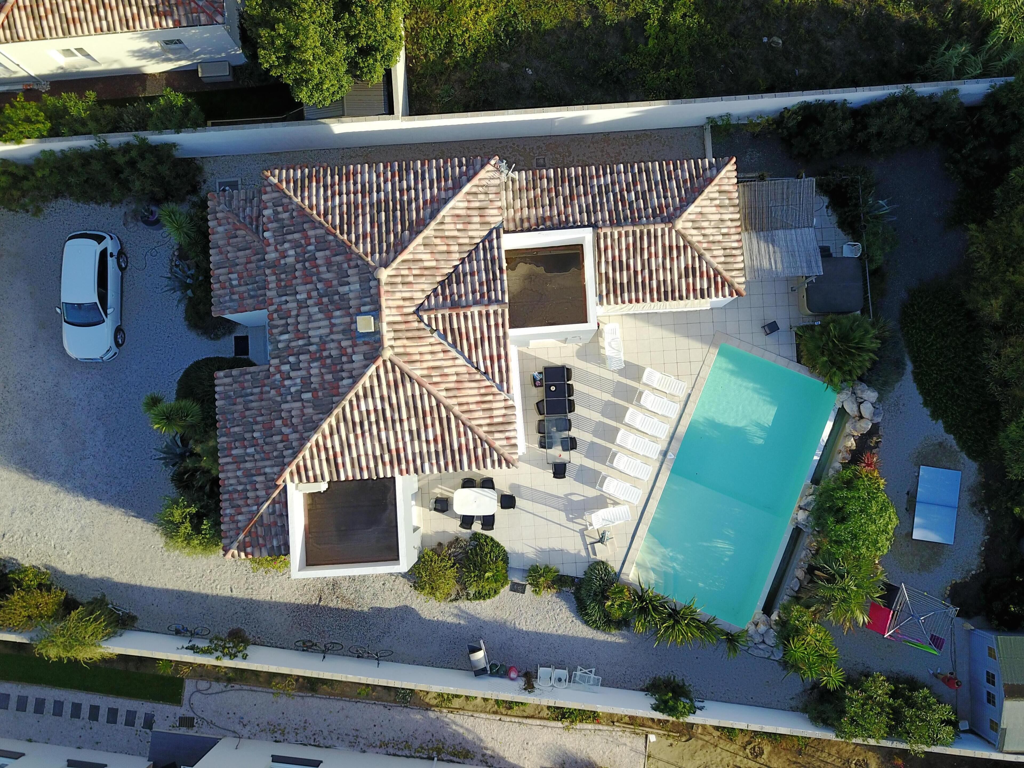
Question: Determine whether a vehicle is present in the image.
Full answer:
Yes, looking at the shot, I can spot a vehicle.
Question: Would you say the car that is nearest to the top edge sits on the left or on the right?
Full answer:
It is on the left.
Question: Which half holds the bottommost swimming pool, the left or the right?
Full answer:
You can find the bottommost swimming pool on the right side of the picture.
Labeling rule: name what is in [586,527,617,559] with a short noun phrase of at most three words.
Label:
umbrella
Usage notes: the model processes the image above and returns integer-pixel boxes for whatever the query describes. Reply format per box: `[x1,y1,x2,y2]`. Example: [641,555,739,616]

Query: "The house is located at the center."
[206,151,751,578]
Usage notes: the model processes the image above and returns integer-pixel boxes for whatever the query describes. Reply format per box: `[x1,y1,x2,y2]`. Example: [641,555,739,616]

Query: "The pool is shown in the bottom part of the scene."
[616,330,859,644]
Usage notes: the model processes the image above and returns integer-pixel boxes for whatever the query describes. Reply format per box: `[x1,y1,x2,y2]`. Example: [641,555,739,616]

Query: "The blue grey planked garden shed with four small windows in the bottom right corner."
[971,627,1024,756]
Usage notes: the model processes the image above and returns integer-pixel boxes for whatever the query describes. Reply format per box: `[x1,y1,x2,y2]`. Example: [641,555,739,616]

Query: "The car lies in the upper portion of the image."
[49,230,124,359]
